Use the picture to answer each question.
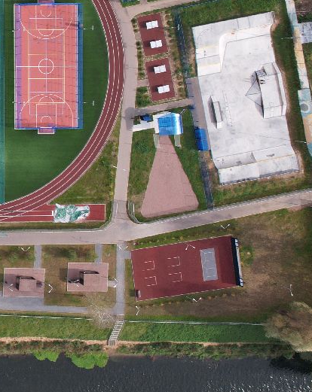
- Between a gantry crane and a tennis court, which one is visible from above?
tennis court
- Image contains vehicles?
No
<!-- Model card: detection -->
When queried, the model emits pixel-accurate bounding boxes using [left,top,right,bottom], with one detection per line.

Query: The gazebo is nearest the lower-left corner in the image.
[14,274,37,292]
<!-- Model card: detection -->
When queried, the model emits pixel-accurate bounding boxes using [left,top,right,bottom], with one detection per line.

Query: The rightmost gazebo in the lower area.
[79,269,101,285]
